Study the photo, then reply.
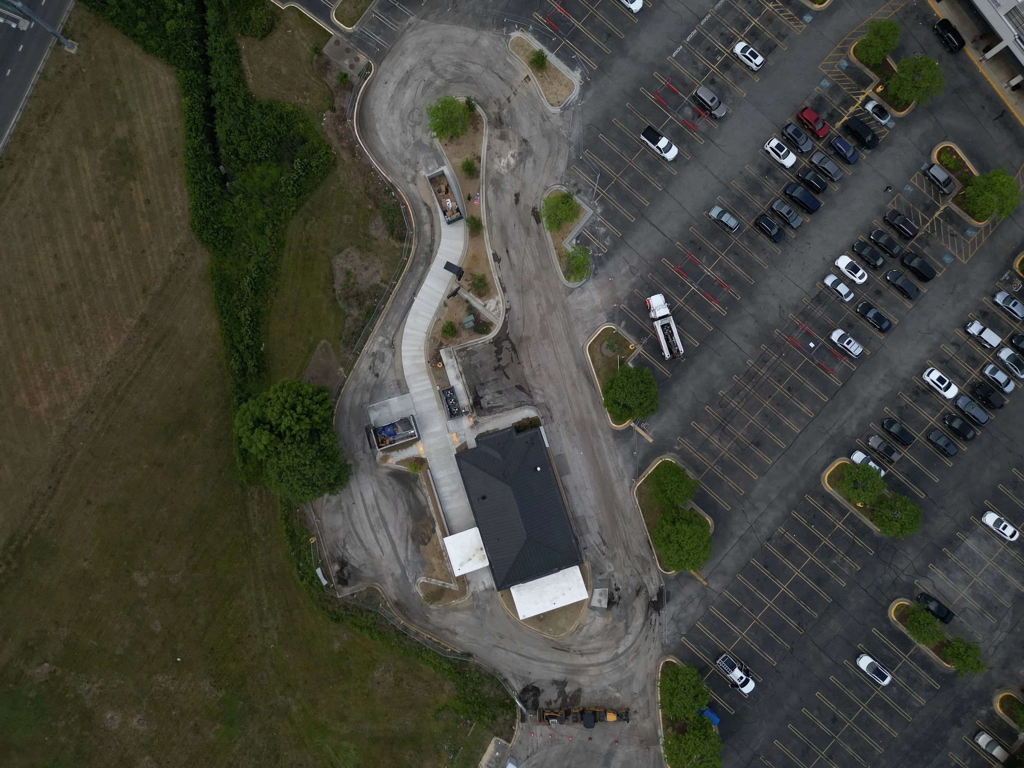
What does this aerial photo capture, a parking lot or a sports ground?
parking lot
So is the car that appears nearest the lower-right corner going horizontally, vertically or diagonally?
diagonally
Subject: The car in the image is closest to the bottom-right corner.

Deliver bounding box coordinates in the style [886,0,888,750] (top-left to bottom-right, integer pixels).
[972,730,1011,764]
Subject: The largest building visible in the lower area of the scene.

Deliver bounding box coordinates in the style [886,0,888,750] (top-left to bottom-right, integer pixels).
[454,426,583,592]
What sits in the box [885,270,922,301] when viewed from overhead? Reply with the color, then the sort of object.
black car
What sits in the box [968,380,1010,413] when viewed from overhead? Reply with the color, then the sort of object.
black truck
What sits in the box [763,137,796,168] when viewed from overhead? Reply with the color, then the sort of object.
white car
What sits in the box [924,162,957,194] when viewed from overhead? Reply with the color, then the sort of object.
gray car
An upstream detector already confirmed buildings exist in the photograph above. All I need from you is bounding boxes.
[454,426,583,592]
[973,0,1024,68]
